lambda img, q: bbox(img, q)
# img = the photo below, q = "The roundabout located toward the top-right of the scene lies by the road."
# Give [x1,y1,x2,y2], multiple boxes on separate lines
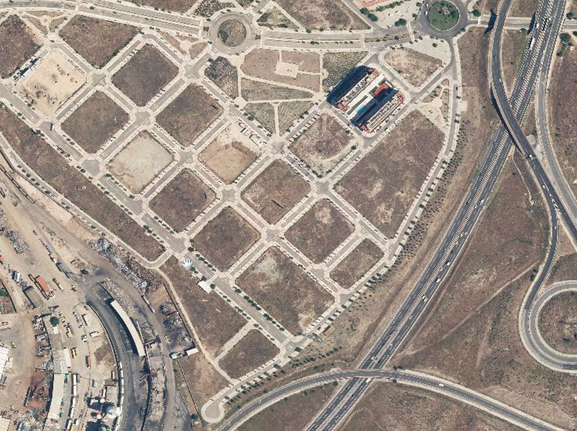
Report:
[420,0,467,39]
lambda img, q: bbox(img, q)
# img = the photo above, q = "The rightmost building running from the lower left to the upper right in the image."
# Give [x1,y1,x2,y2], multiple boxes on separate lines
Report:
[361,94,405,137]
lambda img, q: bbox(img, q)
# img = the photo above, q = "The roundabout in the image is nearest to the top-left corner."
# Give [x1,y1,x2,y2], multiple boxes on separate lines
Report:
[209,10,255,56]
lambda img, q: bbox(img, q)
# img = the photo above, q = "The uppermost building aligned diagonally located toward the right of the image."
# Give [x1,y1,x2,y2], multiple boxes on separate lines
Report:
[336,70,379,113]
